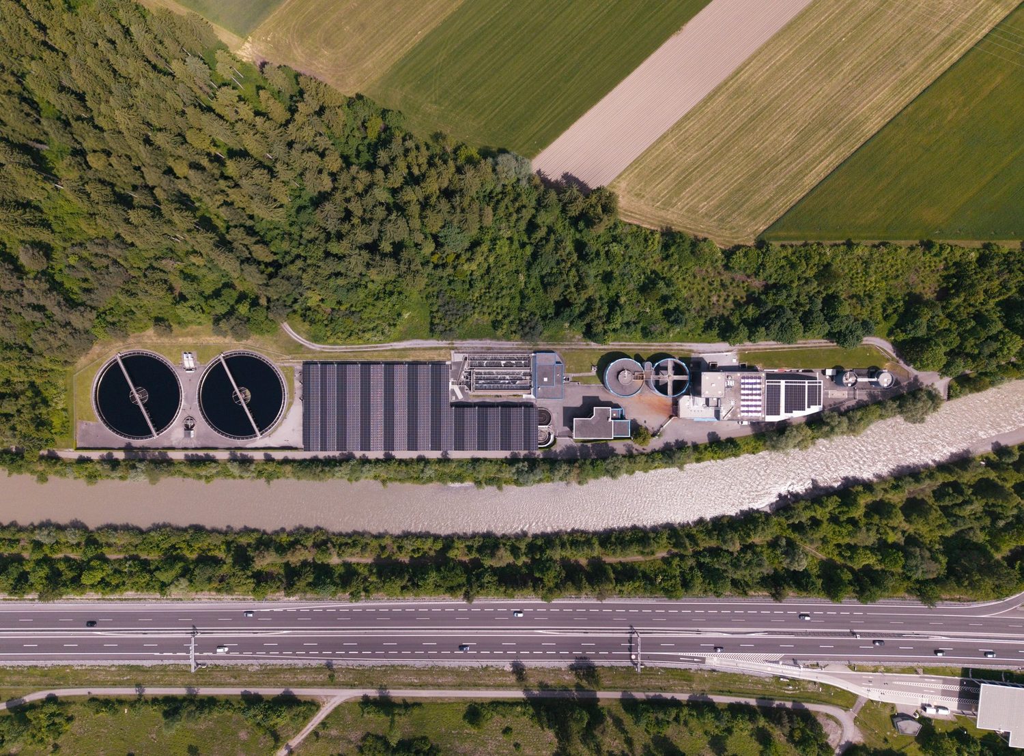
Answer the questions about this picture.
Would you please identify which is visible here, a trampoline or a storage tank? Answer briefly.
storage tank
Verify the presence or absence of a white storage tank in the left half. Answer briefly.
No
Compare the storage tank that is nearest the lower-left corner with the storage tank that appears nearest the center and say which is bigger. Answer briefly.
the storage tank that is nearest the lower-left corner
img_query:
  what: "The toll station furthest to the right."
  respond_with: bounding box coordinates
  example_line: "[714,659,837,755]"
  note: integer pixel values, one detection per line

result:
[936,678,983,699]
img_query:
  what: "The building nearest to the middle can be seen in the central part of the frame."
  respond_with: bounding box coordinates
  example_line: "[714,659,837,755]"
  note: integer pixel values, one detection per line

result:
[532,353,563,398]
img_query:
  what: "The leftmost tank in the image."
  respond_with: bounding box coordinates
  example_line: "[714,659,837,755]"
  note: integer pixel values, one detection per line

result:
[93,348,186,441]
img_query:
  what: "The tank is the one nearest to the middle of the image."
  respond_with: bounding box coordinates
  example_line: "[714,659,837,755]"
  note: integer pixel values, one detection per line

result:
[603,358,645,397]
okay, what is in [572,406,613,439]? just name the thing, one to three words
building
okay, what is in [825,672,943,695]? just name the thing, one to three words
toll station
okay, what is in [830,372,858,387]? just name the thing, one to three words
silo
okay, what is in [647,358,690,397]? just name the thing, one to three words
storage tank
